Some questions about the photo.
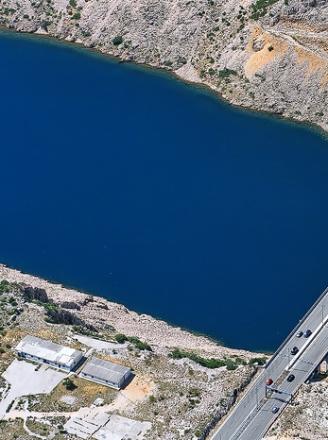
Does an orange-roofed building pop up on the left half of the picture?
No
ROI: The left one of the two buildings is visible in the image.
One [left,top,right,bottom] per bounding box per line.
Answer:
[13,335,84,373]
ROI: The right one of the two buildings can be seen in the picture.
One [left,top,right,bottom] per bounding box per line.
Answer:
[79,356,132,389]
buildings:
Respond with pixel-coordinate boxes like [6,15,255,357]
[79,356,132,389]
[13,335,84,373]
